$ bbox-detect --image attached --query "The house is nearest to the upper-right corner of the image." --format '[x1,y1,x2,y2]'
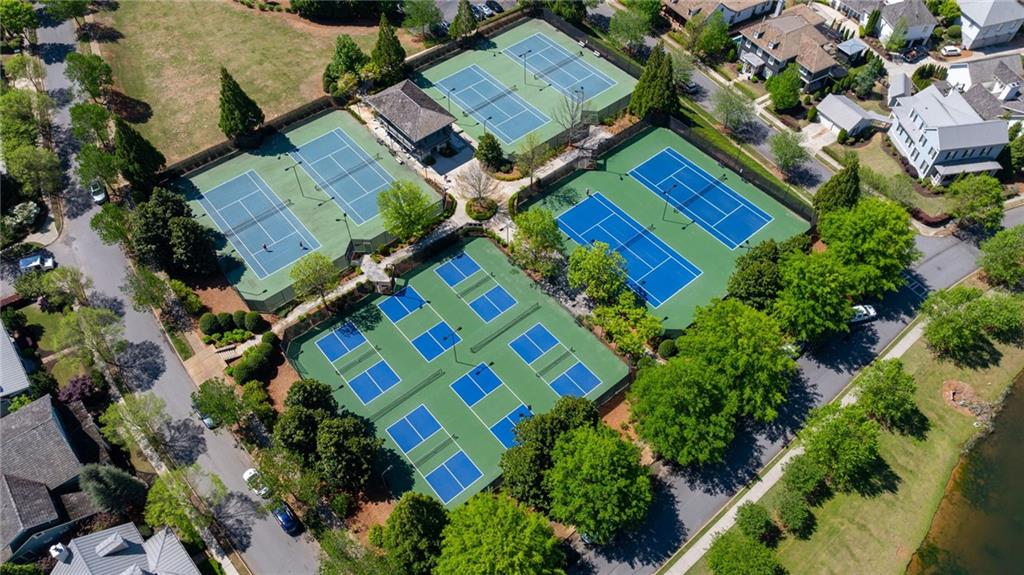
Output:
[951,1,1024,52]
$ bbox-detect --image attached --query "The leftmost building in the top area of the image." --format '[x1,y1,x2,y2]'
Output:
[365,78,458,163]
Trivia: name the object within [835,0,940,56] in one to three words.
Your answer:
house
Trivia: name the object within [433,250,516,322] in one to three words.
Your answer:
sports court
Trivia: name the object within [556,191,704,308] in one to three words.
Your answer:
tennis court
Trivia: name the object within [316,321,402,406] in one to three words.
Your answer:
sports court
